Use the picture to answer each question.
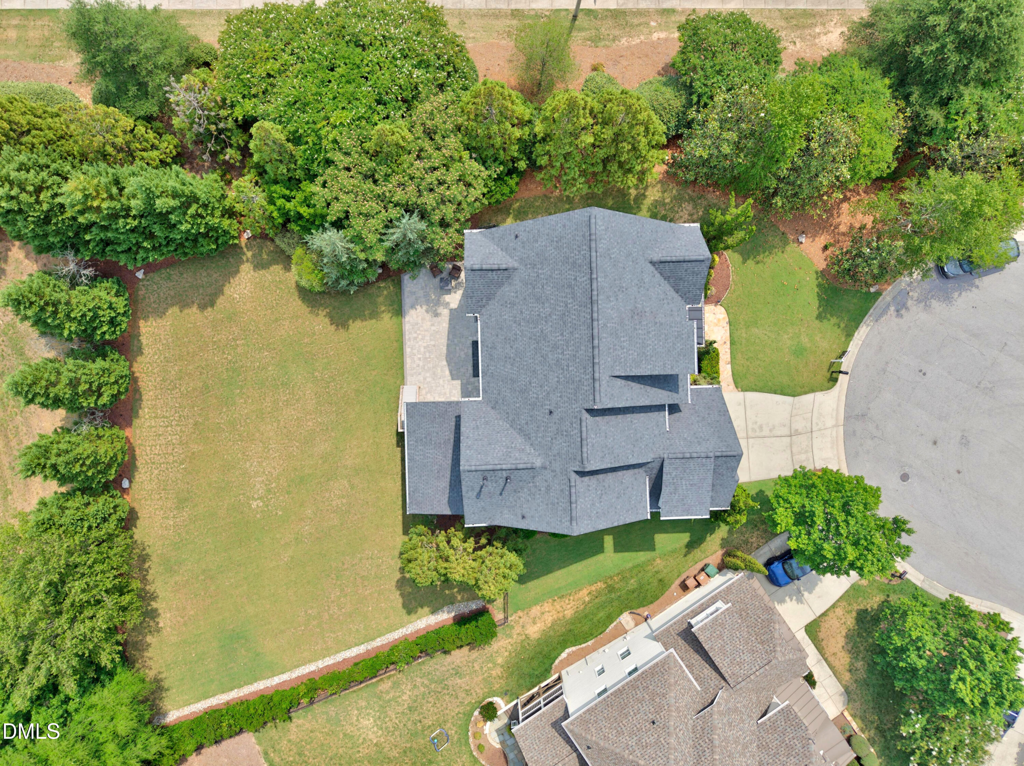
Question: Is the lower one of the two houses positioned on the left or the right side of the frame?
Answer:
right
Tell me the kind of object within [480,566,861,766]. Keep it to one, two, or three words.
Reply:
house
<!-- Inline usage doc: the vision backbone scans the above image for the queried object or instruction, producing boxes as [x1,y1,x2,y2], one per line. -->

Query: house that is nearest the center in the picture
[403,207,742,535]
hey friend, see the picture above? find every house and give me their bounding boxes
[480,566,861,766]
[403,207,742,535]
